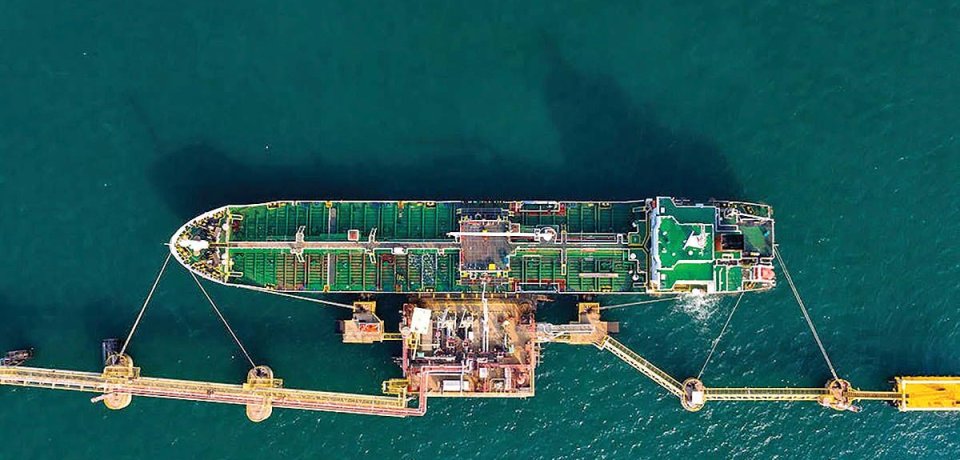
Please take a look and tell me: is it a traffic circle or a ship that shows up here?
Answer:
ship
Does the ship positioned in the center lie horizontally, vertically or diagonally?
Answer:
horizontally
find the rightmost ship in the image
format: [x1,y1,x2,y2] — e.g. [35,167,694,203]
[166,197,776,294]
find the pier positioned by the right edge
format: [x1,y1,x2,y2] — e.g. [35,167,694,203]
[891,374,960,411]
